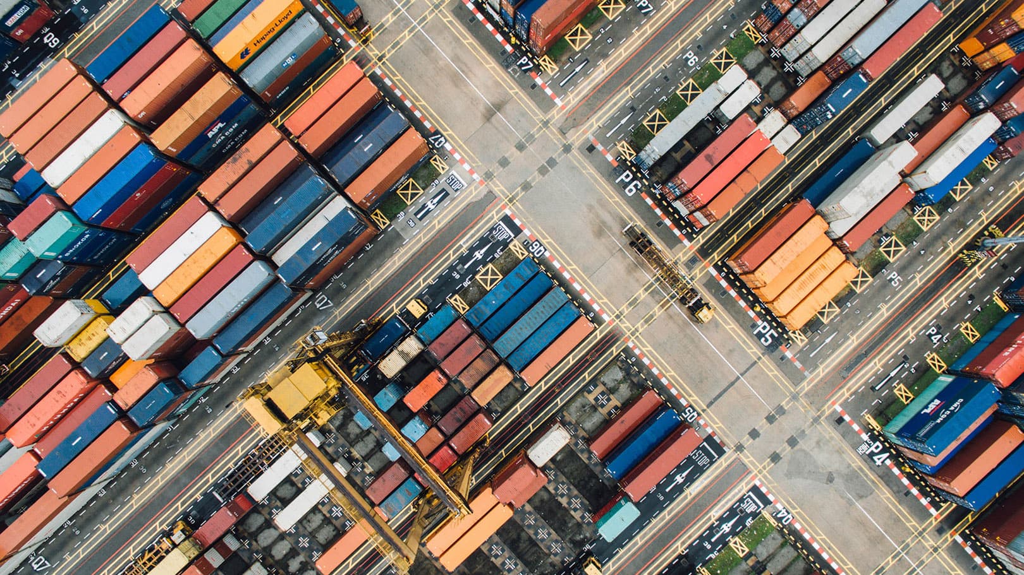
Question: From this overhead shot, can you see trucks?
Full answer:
Yes, the picture does show a truck.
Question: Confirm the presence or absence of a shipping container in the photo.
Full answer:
Yes, there's a shipping container down there.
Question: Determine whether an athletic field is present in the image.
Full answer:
No, the picture doesn't show any athletic field.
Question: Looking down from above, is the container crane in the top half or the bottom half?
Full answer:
It is in the bottom half that the container crane appears.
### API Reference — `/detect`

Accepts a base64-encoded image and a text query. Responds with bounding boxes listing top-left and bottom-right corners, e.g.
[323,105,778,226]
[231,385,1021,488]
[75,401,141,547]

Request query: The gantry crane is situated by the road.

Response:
[233,309,490,575]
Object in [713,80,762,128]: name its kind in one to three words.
shipping container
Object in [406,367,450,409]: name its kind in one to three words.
shipping container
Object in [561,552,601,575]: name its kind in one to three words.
truck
